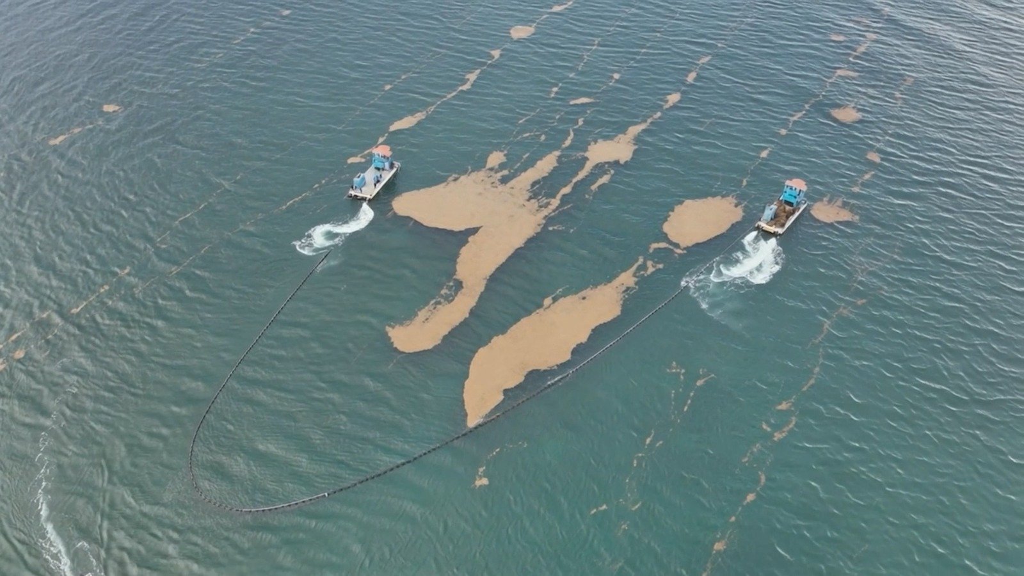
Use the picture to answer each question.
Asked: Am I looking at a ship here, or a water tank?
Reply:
ship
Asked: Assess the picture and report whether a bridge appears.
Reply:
No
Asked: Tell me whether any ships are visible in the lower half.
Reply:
No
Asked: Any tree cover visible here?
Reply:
No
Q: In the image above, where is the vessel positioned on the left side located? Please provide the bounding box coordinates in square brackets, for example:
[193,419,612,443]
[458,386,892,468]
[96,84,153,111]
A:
[350,150,399,202]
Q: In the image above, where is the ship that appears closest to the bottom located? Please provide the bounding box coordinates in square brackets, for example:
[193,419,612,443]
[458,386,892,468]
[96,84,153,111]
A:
[756,185,808,238]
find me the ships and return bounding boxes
[756,185,808,238]
[350,150,399,202]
